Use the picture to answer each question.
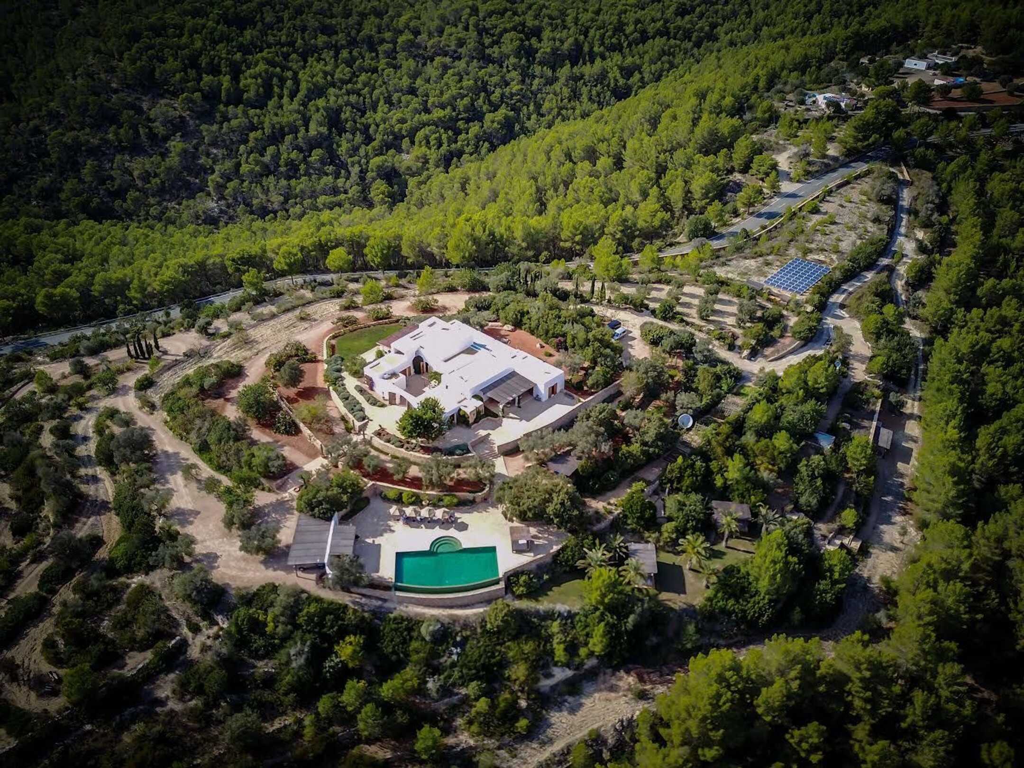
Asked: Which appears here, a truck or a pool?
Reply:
pool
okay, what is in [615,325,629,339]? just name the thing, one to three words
car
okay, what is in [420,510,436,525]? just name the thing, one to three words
umbrella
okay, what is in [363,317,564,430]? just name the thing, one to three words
house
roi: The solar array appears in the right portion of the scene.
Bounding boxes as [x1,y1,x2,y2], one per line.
[763,255,832,296]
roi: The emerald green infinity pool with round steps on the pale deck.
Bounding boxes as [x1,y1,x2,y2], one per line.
[386,531,508,612]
